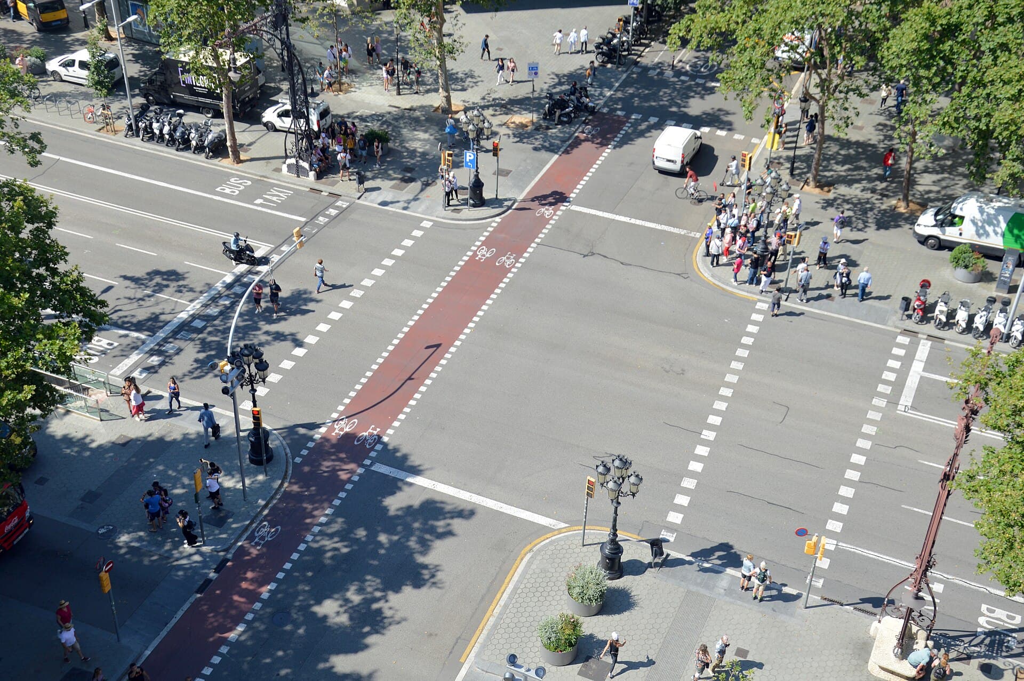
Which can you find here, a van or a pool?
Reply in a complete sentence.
Of the two, only a van appears.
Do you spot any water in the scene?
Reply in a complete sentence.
No, there's no water in this view.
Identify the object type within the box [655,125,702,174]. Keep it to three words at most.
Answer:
van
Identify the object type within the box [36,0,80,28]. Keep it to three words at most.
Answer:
car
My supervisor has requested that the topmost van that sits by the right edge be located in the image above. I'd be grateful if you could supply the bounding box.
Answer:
[914,191,1024,269]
